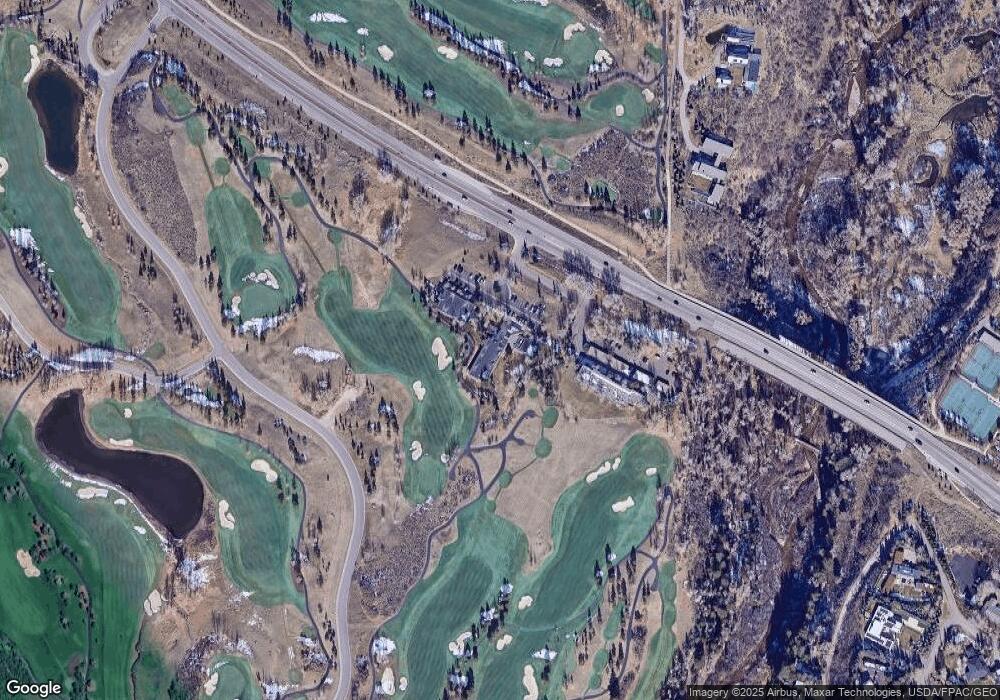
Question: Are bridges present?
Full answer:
Yes, the picture does show a bridge.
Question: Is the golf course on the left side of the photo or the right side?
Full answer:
The golf course sits on the left side.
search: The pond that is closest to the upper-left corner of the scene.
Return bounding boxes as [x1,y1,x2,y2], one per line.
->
[27,61,82,174]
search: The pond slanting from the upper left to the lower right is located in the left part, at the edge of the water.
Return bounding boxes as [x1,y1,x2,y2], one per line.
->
[36,390,203,537]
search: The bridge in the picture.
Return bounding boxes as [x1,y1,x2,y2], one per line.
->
[680,293,918,451]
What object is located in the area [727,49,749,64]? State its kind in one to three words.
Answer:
house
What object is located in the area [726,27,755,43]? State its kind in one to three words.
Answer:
house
